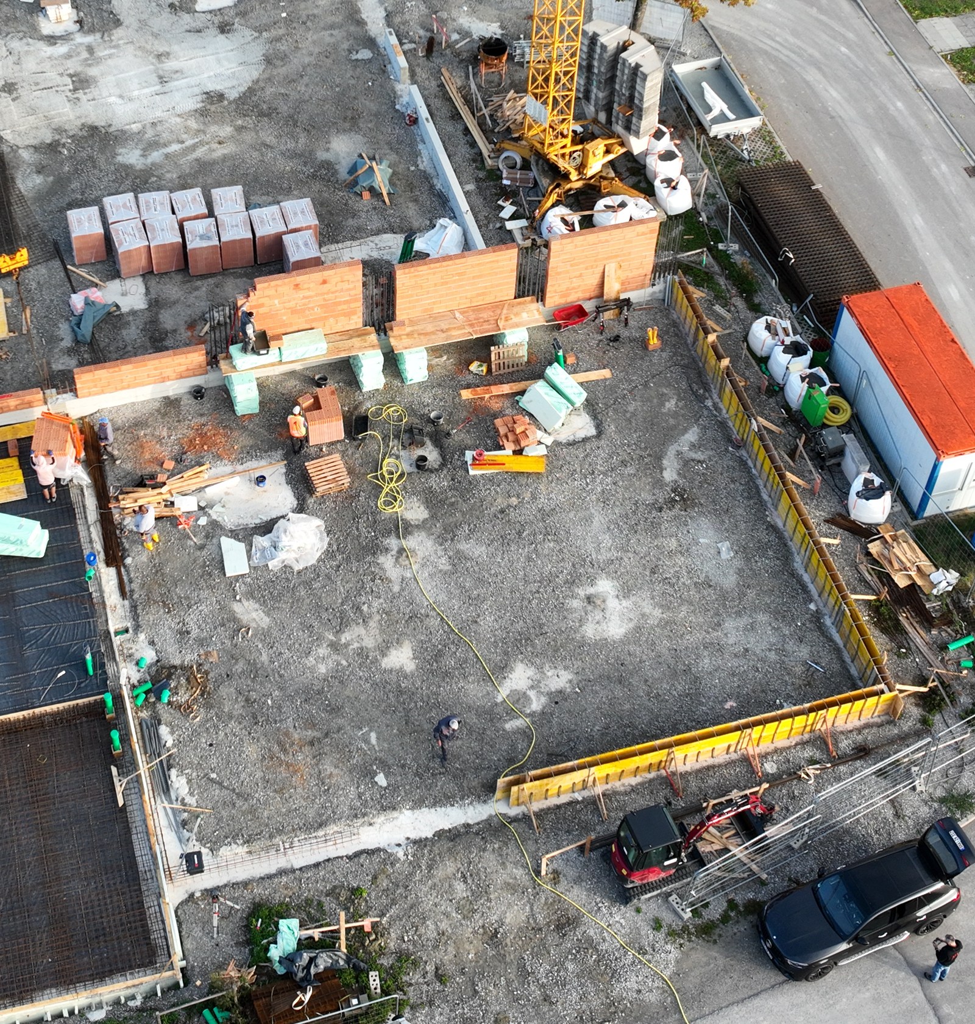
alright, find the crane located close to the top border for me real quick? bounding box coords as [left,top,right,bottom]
[489,0,641,233]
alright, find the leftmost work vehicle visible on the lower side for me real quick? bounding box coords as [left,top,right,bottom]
[600,791,774,909]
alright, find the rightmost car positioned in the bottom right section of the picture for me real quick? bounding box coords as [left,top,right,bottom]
[755,811,975,978]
